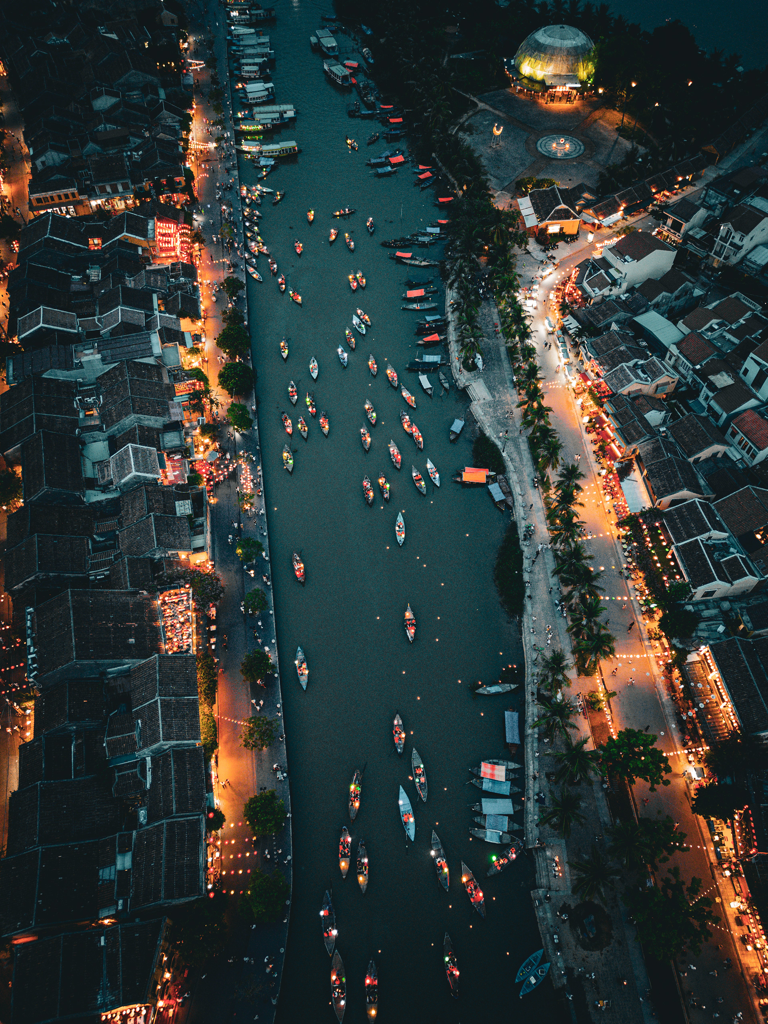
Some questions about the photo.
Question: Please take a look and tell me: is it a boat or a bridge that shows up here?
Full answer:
Of the two, only a boat appears.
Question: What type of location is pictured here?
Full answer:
The area seen from above is a residential area.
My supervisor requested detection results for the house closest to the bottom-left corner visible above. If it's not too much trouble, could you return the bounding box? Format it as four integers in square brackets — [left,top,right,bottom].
[10,929,114,1024]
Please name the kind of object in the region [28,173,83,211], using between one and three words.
house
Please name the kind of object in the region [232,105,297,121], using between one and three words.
boat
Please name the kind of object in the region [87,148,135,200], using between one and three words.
house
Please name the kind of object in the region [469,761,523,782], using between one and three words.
boat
